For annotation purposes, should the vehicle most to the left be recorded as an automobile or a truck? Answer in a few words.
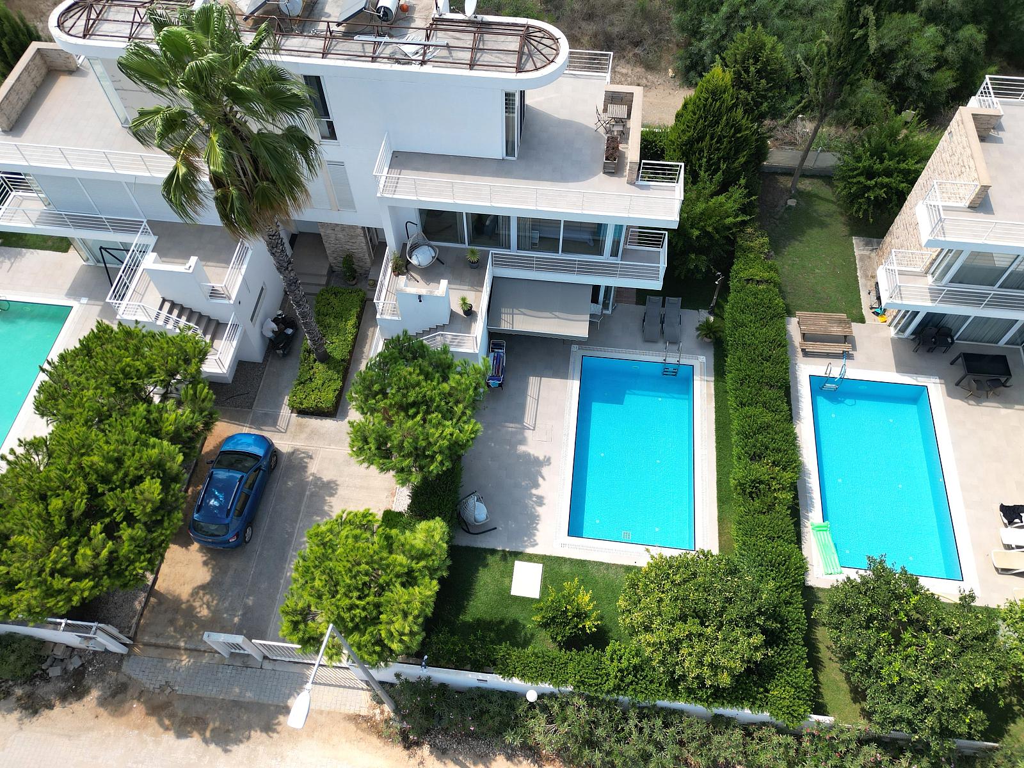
automobile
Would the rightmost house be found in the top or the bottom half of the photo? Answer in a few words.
top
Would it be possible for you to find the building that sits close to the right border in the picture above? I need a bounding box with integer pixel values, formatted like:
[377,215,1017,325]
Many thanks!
[874,76,1024,348]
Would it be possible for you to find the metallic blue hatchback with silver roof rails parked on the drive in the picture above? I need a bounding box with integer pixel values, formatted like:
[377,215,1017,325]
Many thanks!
[182,430,278,555]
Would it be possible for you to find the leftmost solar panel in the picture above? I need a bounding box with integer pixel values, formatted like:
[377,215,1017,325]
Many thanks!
[240,0,274,21]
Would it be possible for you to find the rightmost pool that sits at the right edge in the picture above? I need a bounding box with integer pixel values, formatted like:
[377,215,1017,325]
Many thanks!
[796,363,979,596]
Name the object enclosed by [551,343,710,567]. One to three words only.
swimming pool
